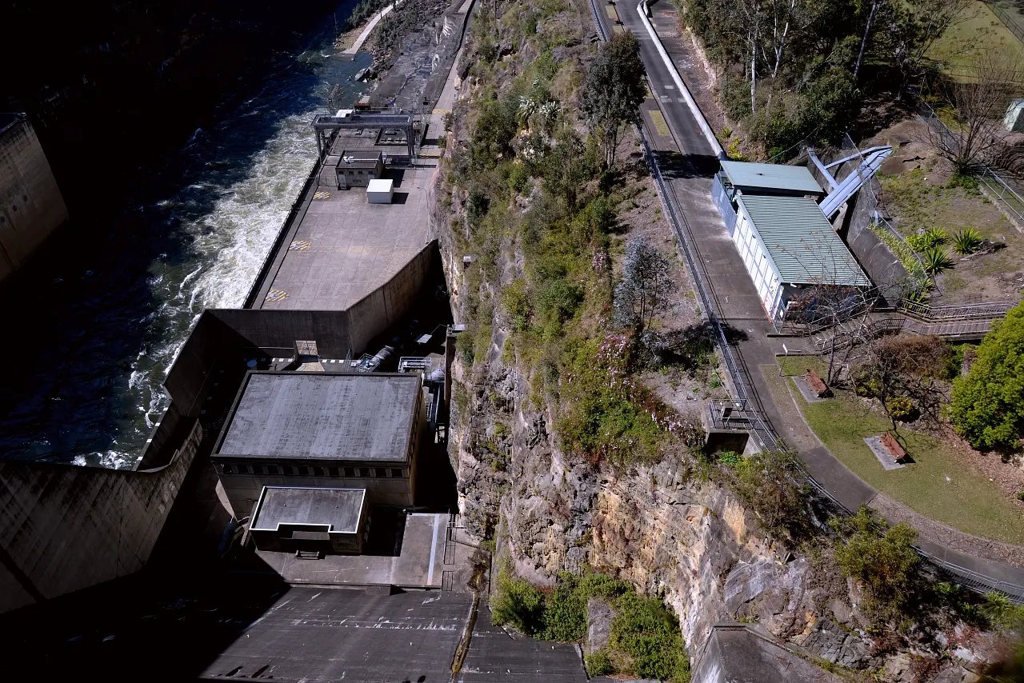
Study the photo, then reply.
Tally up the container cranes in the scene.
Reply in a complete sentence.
Altogether the scene contains 1 container crane.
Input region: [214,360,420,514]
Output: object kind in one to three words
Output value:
building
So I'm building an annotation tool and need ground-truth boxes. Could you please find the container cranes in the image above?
[307,97,427,167]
